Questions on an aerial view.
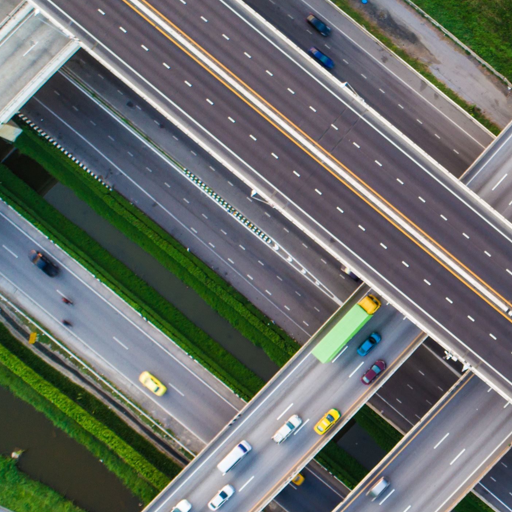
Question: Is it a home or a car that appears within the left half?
car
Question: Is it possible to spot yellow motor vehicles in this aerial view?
Yes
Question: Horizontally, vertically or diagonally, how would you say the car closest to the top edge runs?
diagonally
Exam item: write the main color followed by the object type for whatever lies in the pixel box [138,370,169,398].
yellow car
